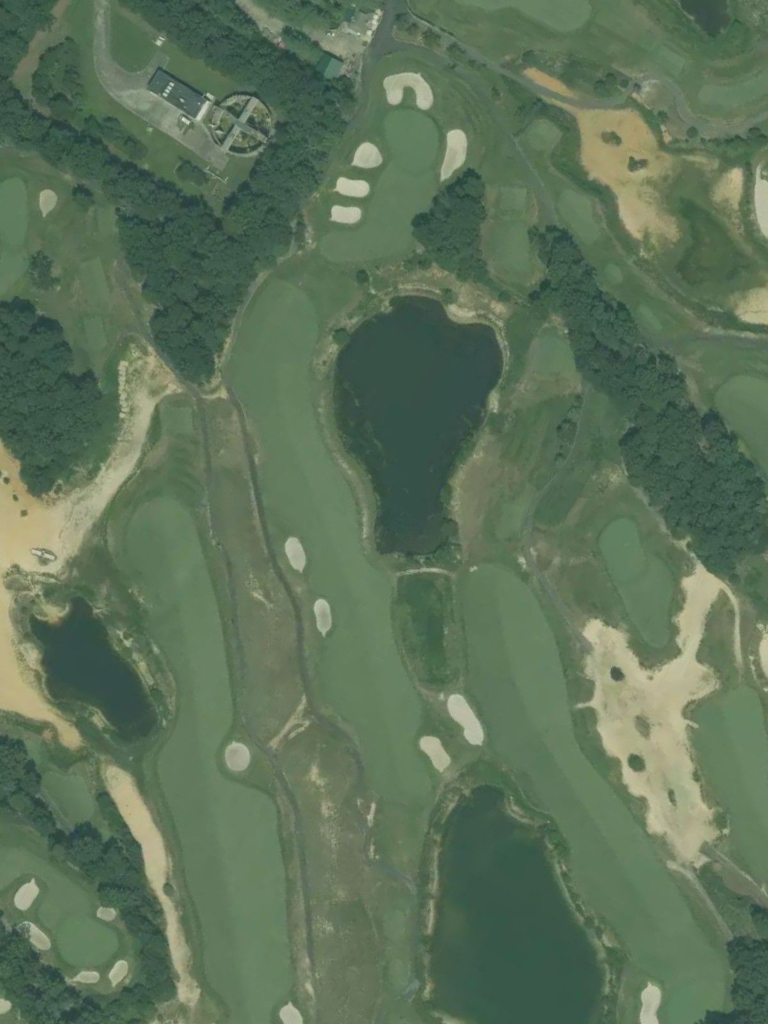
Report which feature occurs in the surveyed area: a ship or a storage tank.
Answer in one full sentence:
Of the two, only a storage tank appears.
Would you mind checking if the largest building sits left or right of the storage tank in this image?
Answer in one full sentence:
It is on the left side of the storage tank that the largest building is positioned.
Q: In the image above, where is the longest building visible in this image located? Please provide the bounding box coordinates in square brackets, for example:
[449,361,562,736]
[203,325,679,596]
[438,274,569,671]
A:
[148,70,212,124]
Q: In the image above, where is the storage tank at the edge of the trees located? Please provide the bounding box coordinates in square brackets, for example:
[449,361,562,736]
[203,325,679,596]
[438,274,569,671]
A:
[212,94,276,155]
